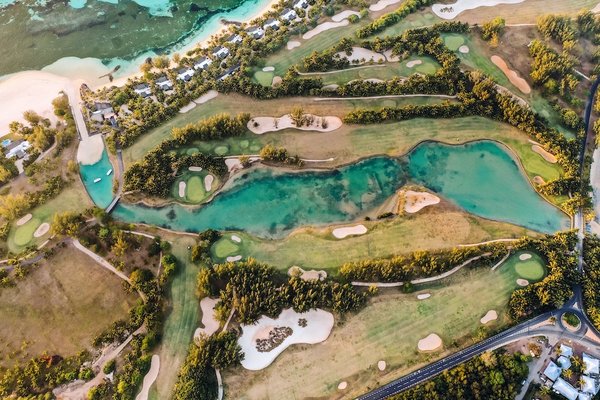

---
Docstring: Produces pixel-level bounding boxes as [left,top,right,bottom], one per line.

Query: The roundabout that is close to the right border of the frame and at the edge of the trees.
[555,305,588,337]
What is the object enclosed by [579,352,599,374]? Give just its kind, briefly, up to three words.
house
